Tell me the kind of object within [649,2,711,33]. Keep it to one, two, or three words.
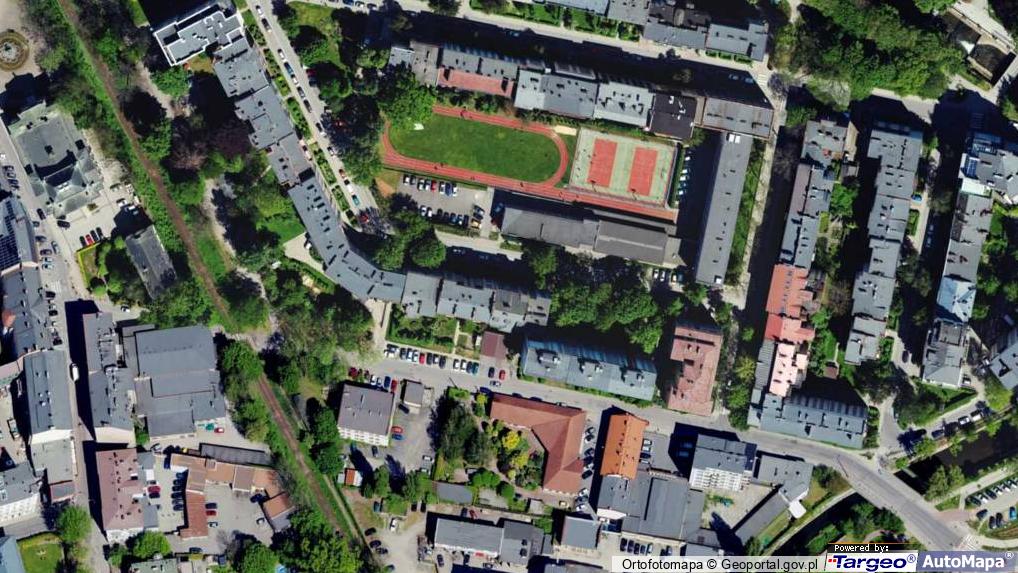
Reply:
house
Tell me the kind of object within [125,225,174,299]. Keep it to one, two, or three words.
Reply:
building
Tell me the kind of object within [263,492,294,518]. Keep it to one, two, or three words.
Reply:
shed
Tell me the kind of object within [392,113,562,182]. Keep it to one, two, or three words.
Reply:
sports field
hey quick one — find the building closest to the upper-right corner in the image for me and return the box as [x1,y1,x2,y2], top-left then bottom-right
[942,5,1016,87]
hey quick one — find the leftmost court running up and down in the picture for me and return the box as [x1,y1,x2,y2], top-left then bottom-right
[588,139,617,187]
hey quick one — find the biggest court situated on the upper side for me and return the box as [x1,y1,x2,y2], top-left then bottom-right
[571,129,677,203]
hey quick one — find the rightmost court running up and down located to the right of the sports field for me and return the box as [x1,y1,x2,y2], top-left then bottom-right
[628,147,658,196]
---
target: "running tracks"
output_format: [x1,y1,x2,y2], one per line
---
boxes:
[383,104,678,222]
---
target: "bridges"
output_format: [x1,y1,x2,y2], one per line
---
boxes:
[848,449,1011,573]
